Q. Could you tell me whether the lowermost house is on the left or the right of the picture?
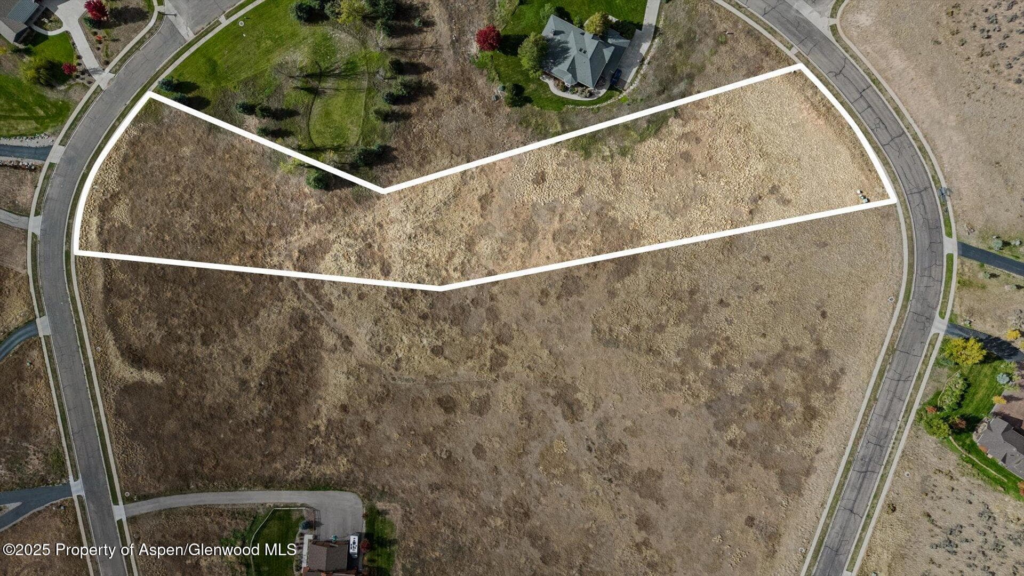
left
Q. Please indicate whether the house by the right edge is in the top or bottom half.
bottom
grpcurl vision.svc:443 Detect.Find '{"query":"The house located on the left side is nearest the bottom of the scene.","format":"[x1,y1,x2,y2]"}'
[304,537,359,576]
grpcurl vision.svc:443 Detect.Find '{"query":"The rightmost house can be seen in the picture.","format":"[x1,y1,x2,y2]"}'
[971,417,1024,480]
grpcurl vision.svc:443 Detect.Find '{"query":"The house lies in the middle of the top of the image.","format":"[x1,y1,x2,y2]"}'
[529,16,630,91]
